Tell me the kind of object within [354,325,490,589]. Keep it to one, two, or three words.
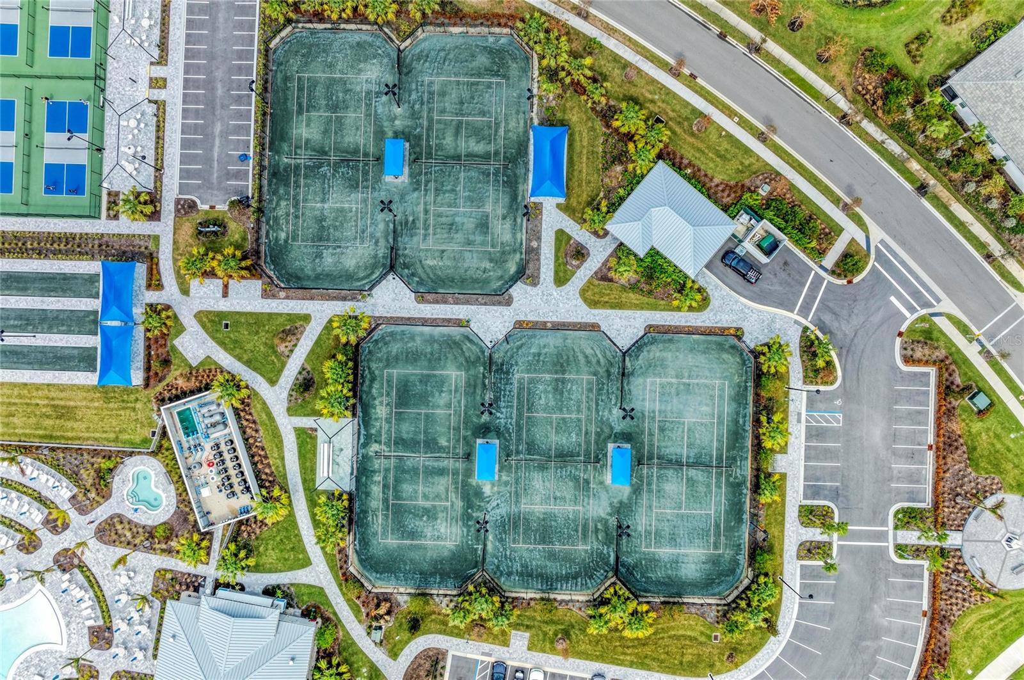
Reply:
tennis court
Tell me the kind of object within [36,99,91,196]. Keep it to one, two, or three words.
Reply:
sports court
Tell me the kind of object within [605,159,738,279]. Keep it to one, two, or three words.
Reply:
building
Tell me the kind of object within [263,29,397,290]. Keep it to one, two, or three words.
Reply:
tennis court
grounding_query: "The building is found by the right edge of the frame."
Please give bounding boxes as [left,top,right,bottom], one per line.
[940,20,1024,194]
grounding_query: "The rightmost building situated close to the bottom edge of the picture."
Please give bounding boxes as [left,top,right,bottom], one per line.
[152,584,317,680]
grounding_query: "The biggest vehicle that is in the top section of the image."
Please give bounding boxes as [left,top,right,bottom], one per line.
[721,247,763,285]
